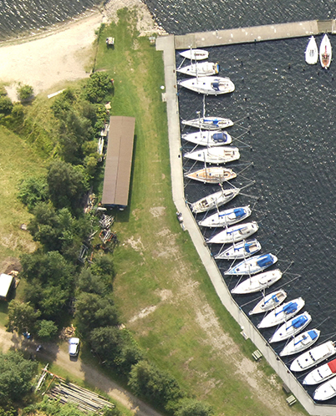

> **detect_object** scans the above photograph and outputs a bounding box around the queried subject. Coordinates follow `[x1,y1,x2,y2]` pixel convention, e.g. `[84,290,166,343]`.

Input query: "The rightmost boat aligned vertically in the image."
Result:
[317,29,336,78]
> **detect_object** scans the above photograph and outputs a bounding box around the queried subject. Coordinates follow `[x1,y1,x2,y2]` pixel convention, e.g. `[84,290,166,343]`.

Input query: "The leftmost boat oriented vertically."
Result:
[305,36,319,68]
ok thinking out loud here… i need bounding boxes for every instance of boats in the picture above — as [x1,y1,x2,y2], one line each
[195,194,265,232]
[305,36,319,68]
[180,39,222,61]
[303,359,336,391]
[317,29,336,78]
[219,245,278,283]
[229,263,298,294]
[182,98,241,130]
[204,212,271,252]
[215,234,277,260]
[288,337,336,379]
[181,115,233,146]
[179,50,242,79]
[262,306,329,345]
[241,277,300,318]
[191,180,240,210]
[311,378,336,403]
[181,153,247,184]
[281,329,326,356]
[255,291,310,332]
[175,57,238,94]
[180,129,251,164]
